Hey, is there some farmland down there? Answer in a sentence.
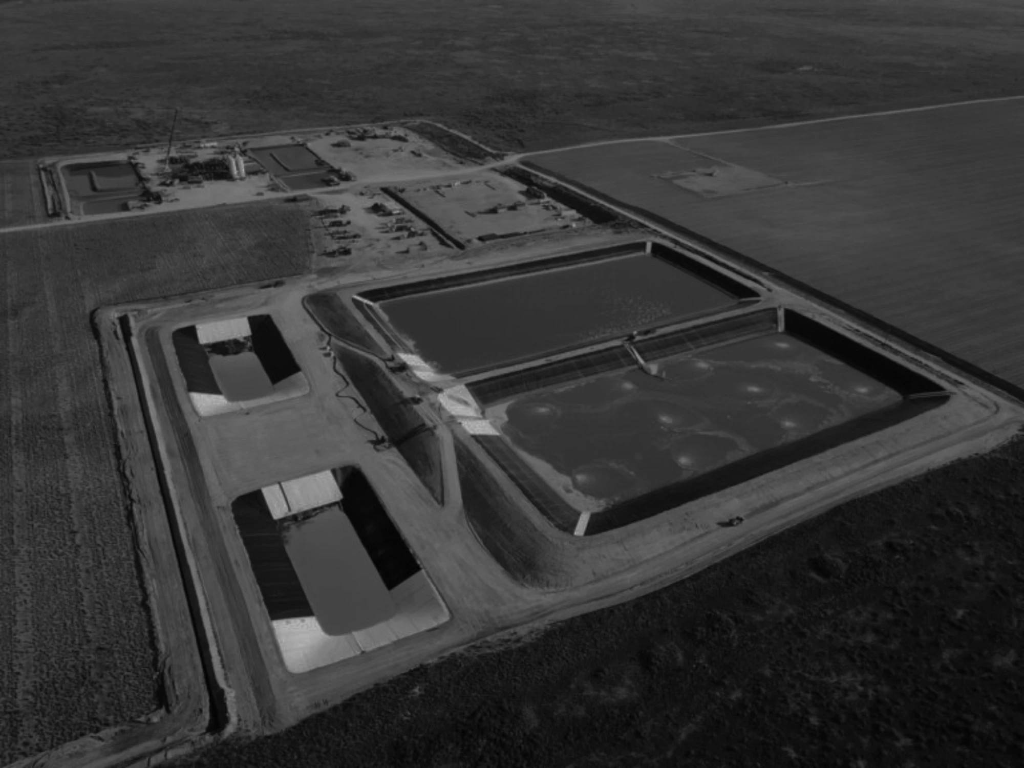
Yes, there's farmland in this view.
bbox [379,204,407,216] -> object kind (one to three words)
vehicle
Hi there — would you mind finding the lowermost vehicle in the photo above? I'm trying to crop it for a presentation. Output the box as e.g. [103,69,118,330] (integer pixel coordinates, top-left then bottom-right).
[730,514,744,528]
